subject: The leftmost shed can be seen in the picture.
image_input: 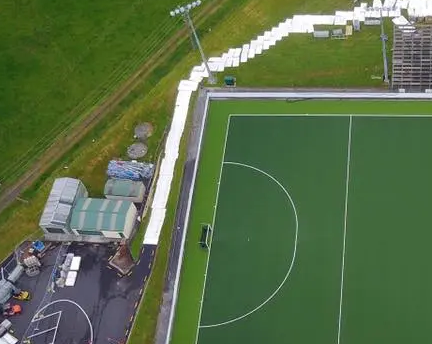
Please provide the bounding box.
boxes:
[40,176,92,243]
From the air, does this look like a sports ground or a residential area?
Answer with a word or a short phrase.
sports ground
